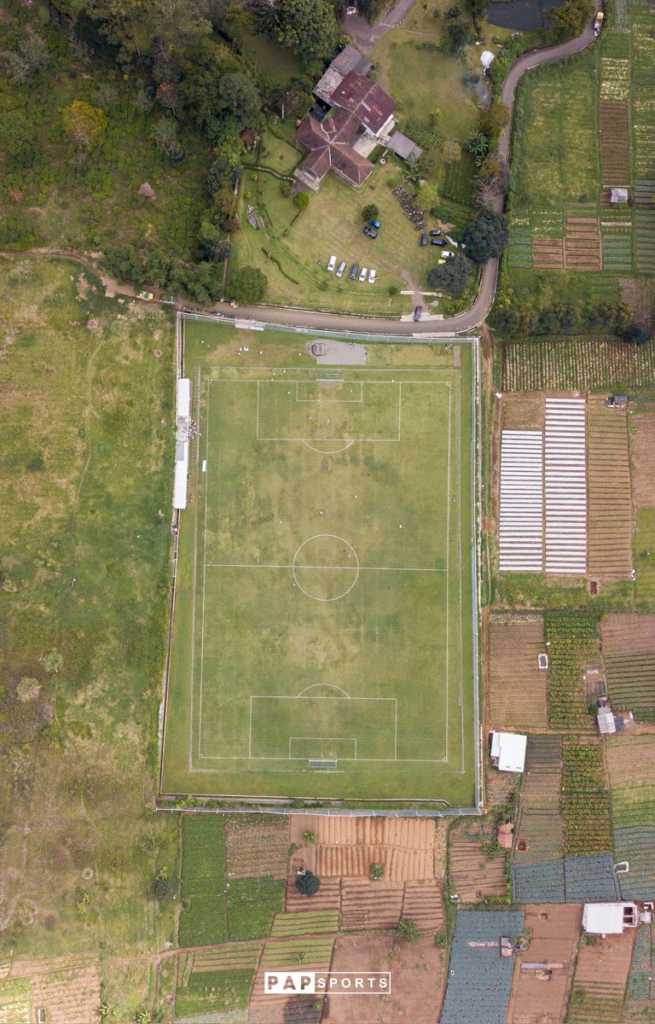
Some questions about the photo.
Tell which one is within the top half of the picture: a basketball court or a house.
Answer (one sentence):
The feature located within the top half of the picture is a house.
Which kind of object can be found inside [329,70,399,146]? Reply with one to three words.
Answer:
building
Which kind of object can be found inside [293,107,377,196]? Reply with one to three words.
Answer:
house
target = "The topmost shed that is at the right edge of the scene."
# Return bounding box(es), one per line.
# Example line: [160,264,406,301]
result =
[608,188,628,206]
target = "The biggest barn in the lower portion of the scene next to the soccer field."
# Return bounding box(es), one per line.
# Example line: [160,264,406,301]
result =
[489,733,528,773]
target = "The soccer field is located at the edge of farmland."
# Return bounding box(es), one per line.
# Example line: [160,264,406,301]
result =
[164,319,475,806]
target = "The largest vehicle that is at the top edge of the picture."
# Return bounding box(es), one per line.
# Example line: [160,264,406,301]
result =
[593,11,605,30]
